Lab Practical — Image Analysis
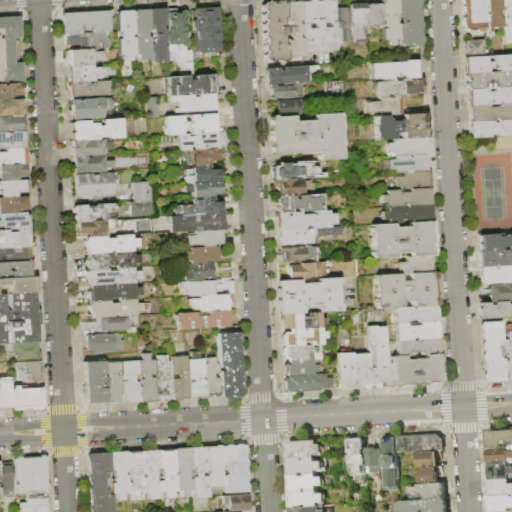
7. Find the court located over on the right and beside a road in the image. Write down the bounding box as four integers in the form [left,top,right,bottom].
[474,154,512,230]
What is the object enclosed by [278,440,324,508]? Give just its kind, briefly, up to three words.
building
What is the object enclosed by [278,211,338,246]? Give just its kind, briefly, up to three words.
building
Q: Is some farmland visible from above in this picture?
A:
No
